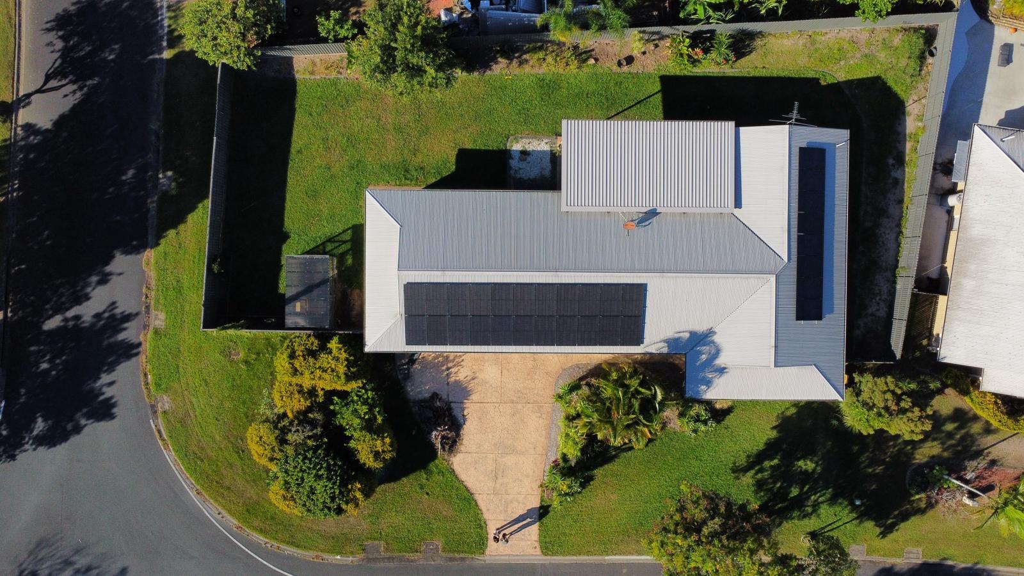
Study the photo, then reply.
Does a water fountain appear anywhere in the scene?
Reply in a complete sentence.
No, there's no water fountain here.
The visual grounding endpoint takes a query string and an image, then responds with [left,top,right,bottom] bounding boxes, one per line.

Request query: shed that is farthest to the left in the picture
[285,255,340,328]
